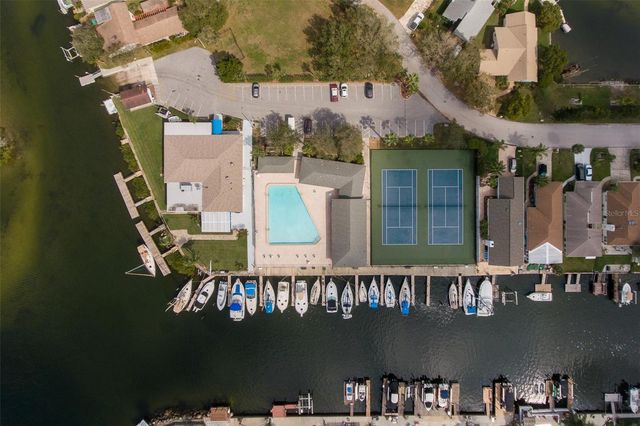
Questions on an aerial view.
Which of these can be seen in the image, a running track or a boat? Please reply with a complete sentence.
The image shows a boat.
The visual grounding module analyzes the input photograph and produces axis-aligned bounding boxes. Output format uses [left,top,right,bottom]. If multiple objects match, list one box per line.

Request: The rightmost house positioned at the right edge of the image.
[603,182,640,245]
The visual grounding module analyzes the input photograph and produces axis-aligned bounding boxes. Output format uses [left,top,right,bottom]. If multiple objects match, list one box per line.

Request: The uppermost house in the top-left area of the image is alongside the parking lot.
[94,0,188,56]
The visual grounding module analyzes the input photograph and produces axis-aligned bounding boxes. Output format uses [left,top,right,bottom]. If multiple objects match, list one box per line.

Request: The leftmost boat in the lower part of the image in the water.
[130,244,156,279]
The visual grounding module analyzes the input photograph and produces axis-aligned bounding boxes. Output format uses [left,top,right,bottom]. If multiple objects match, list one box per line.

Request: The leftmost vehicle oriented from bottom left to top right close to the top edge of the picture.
[409,12,425,32]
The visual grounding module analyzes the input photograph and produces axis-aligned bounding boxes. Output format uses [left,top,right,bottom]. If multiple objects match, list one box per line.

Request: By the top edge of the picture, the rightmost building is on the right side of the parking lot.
[478,11,537,84]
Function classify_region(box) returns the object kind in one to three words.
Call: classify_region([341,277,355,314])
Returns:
boat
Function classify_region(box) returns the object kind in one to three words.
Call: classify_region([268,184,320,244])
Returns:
swimming pool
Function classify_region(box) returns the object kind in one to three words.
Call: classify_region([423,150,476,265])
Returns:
tennis court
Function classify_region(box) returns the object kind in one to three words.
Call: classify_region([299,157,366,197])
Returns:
building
